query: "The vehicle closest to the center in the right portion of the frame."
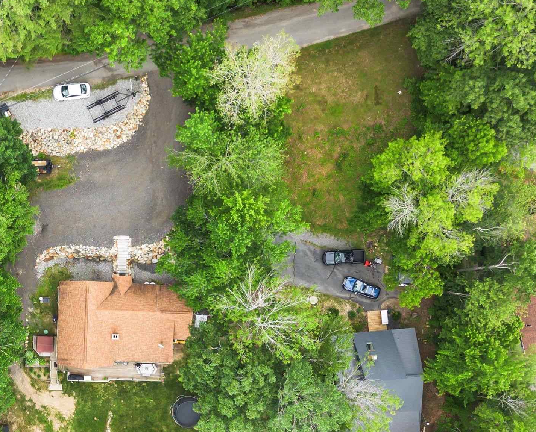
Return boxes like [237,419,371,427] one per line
[323,247,369,265]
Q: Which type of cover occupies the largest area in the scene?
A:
trees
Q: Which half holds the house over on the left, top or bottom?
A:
bottom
